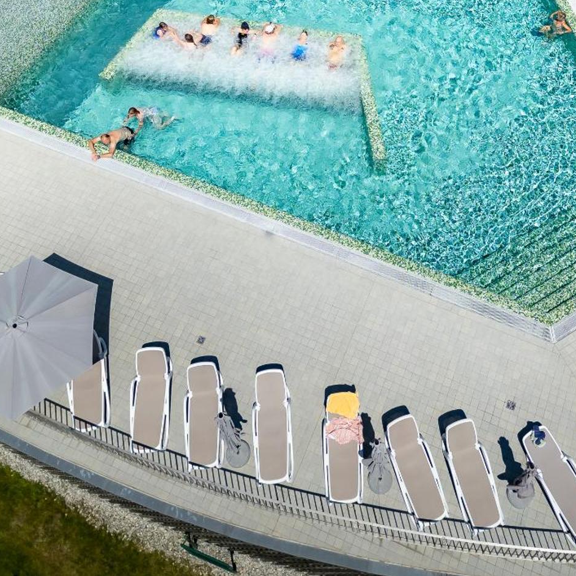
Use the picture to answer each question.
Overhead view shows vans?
No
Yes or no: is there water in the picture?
Yes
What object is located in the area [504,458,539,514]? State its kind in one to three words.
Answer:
umbrella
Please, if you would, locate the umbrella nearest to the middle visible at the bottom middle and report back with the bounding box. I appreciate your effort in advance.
[214,411,252,470]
